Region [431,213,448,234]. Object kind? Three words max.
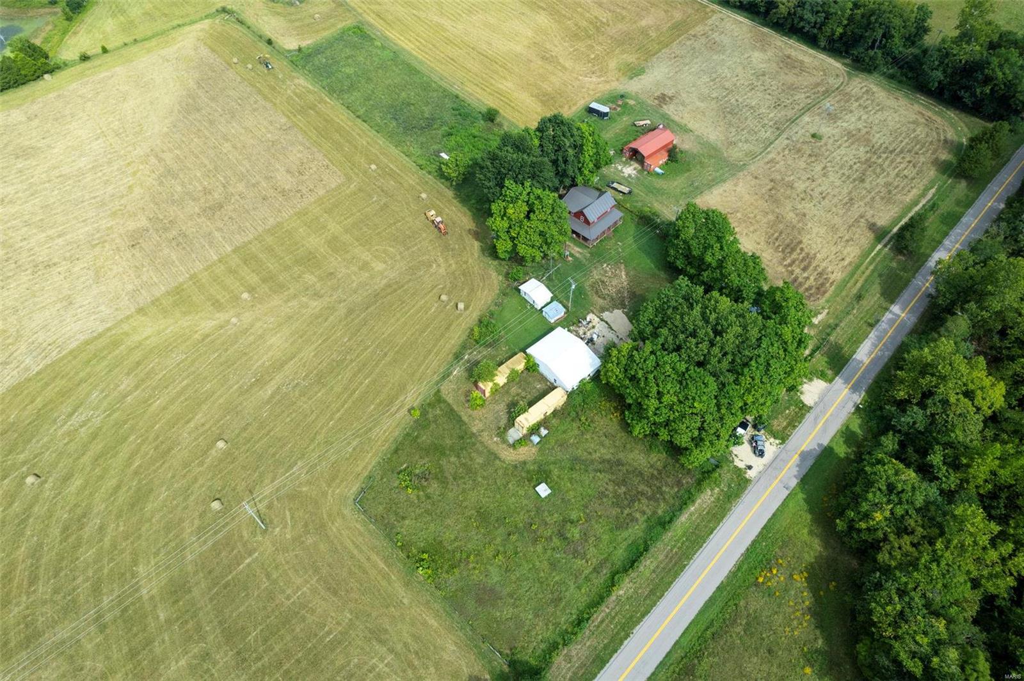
work vehicle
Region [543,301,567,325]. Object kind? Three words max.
shed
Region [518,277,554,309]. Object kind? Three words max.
shed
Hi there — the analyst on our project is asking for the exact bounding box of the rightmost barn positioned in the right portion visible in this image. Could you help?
[624,130,675,173]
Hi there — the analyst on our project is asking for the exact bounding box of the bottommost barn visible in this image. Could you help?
[524,327,602,399]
